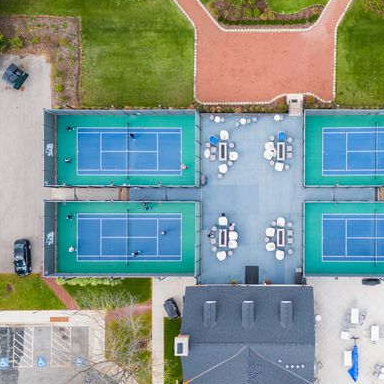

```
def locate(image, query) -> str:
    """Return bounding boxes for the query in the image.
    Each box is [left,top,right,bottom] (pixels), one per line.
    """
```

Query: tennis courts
[303,202,384,274]
[58,202,201,274]
[304,114,384,186]
[58,115,200,186]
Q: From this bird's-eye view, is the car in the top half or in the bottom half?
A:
bottom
